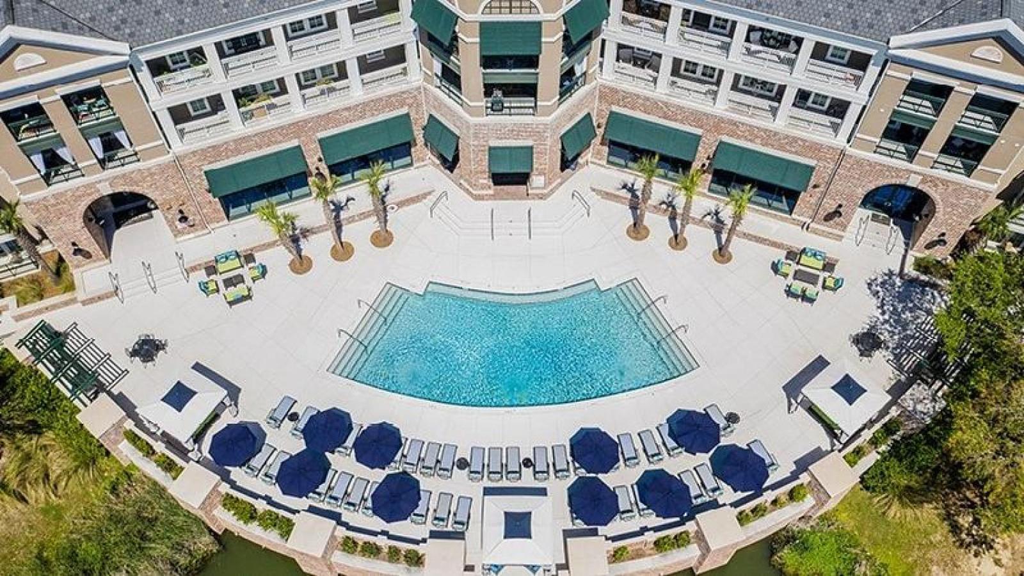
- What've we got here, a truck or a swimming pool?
swimming pool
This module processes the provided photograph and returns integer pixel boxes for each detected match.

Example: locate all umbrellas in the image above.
[668,411,718,457]
[712,446,765,498]
[569,430,616,474]
[304,411,352,454]
[372,475,421,523]
[638,469,691,521]
[568,480,616,529]
[213,421,267,471]
[276,449,330,499]
[354,425,404,471]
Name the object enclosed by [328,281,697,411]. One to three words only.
swimming pool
